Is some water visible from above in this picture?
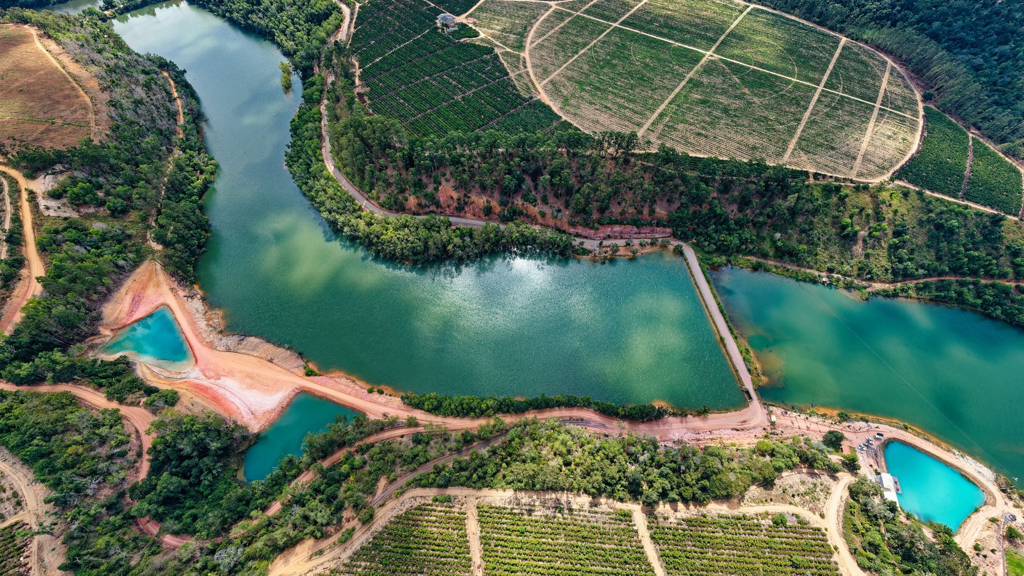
Yes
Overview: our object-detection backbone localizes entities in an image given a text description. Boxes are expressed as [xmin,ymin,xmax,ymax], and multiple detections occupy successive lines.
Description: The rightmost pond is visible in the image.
[884,440,985,531]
